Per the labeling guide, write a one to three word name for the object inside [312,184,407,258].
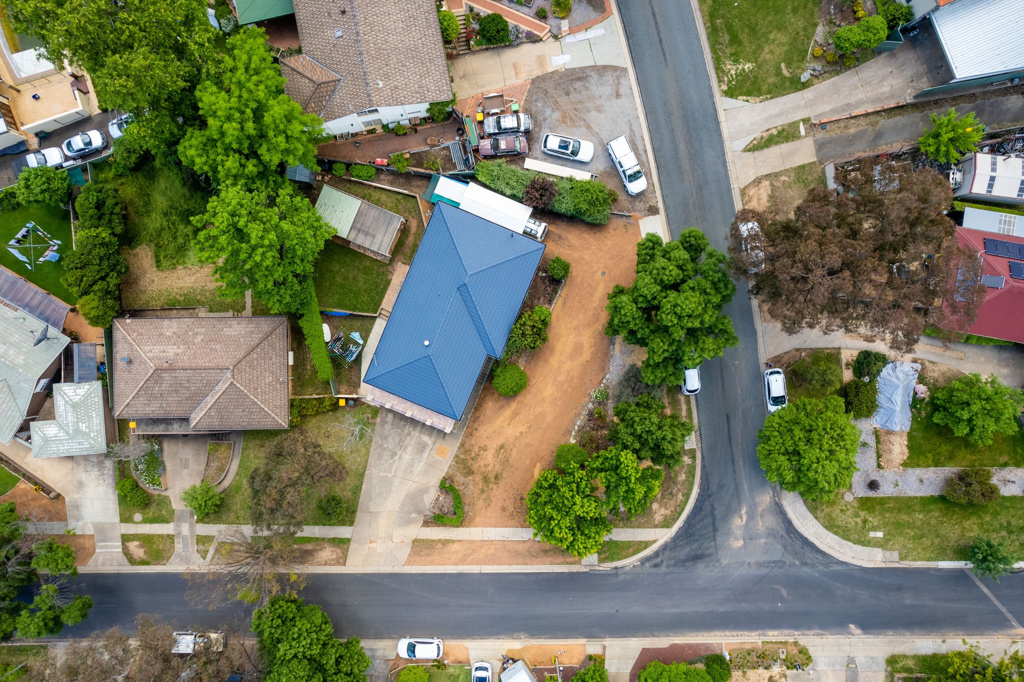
shed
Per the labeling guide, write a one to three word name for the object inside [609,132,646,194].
truck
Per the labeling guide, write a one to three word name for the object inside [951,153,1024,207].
building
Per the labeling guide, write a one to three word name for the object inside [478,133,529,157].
car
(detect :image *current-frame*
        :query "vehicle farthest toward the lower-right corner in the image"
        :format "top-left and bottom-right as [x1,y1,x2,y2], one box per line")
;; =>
[767,368,791,417]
